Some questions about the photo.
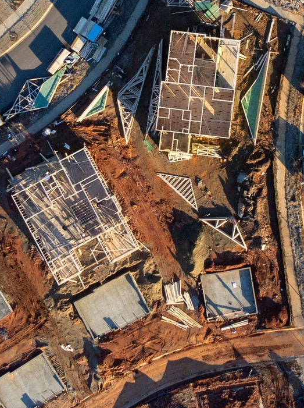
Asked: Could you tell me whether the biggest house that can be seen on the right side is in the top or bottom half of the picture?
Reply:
top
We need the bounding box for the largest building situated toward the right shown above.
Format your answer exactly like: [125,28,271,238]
[156,28,253,154]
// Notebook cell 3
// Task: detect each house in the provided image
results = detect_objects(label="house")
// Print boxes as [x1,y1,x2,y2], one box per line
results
[156,28,253,154]
[8,144,150,288]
